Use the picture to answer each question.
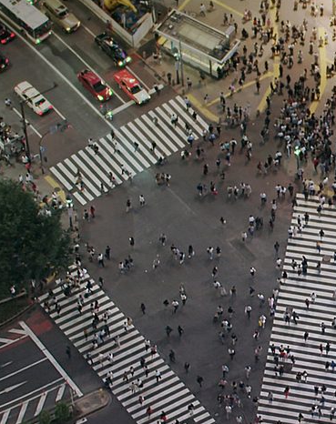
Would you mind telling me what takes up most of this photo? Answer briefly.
paved ground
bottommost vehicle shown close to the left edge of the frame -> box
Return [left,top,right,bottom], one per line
[15,80,52,109]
